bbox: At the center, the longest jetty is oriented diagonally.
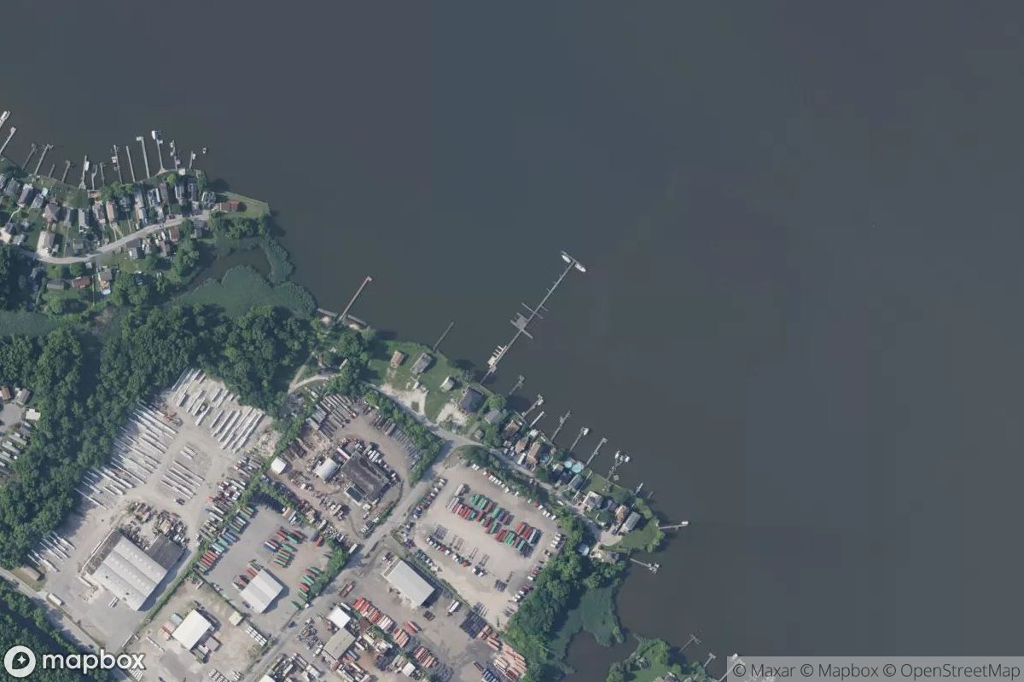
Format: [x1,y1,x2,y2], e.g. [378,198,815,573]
[480,251,579,384]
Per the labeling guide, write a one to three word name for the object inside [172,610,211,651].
building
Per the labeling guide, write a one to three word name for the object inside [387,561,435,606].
building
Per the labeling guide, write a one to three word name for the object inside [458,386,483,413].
house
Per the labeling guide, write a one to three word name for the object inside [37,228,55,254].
house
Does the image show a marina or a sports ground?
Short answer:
marina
